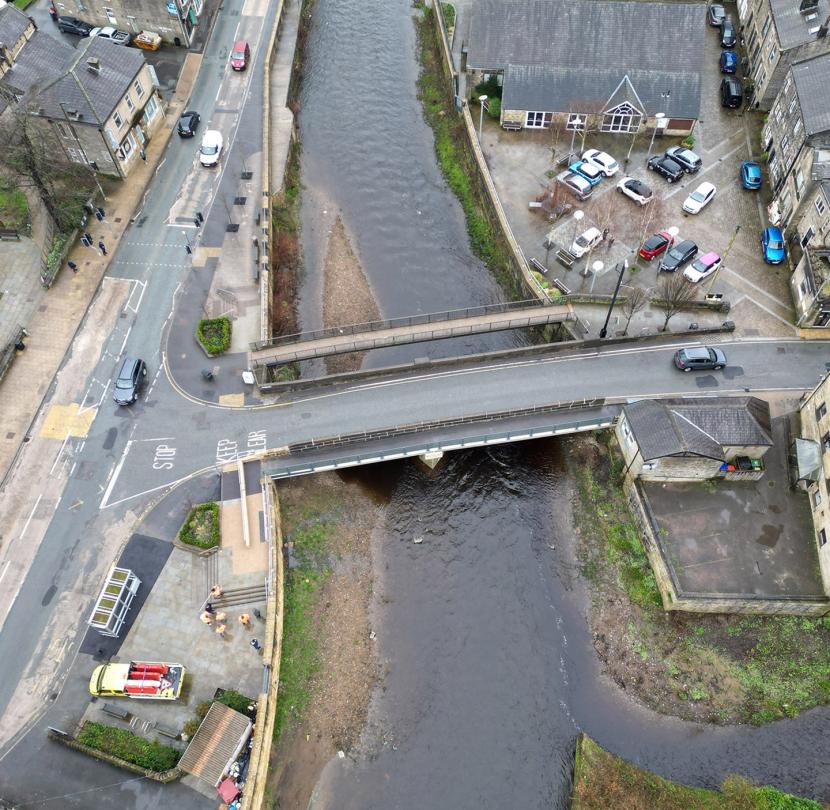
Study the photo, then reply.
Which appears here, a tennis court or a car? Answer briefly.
car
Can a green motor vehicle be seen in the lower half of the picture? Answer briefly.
No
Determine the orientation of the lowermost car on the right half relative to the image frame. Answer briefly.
from side to side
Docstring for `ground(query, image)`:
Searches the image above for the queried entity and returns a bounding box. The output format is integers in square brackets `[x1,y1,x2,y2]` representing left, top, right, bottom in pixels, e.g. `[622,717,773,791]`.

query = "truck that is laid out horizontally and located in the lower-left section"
[81,656,182,701]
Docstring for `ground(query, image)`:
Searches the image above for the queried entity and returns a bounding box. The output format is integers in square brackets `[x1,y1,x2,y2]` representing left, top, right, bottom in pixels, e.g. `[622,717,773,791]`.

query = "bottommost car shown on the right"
[672,346,734,375]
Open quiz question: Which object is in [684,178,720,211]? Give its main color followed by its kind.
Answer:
white car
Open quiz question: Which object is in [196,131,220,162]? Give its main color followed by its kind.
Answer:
white car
